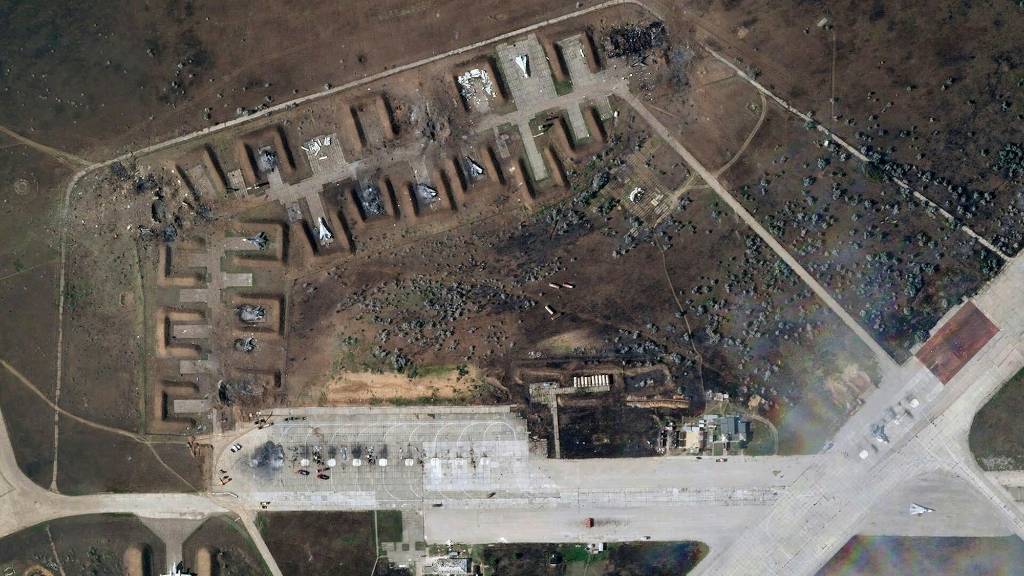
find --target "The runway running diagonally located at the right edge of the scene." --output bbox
[688,247,1024,576]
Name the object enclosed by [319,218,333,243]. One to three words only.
airplane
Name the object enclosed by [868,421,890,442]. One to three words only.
airplane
